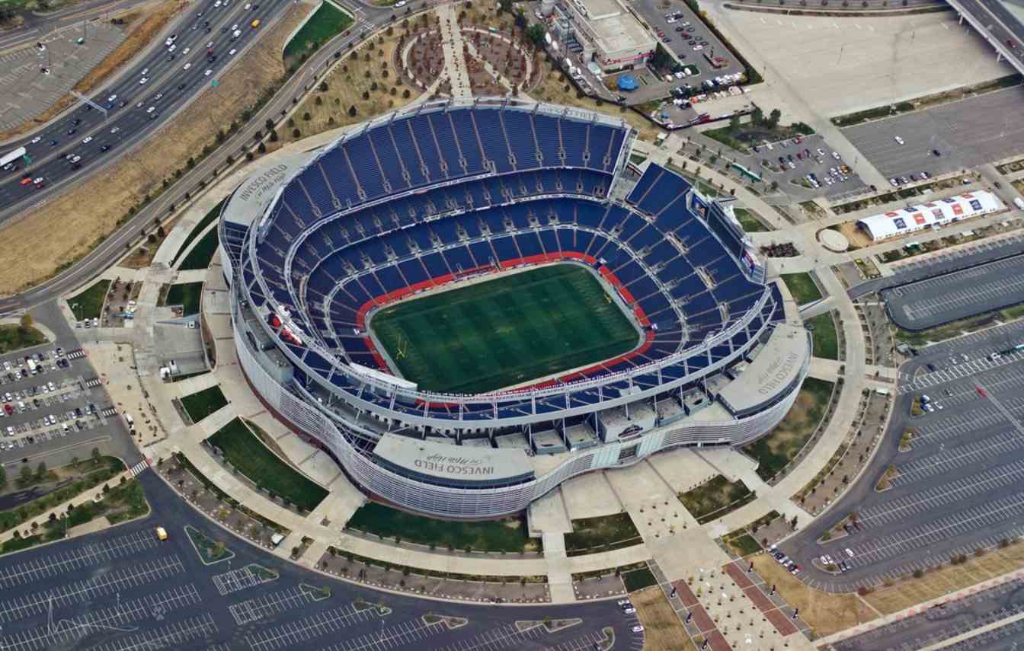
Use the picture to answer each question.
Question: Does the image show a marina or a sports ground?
sports ground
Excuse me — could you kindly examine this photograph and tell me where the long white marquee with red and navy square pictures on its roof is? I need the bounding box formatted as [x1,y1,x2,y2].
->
[859,187,1006,241]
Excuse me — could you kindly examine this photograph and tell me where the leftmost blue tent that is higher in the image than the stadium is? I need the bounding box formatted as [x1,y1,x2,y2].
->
[615,74,640,91]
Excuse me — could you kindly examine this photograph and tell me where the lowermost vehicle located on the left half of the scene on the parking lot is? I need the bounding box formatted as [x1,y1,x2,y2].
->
[155,524,169,541]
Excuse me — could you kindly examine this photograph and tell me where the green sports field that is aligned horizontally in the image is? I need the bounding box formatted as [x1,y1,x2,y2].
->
[369,261,646,405]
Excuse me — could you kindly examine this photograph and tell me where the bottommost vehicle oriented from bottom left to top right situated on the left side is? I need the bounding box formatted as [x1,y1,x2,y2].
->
[157,362,172,378]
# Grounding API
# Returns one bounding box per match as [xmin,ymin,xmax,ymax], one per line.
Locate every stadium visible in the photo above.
[214,94,817,523]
